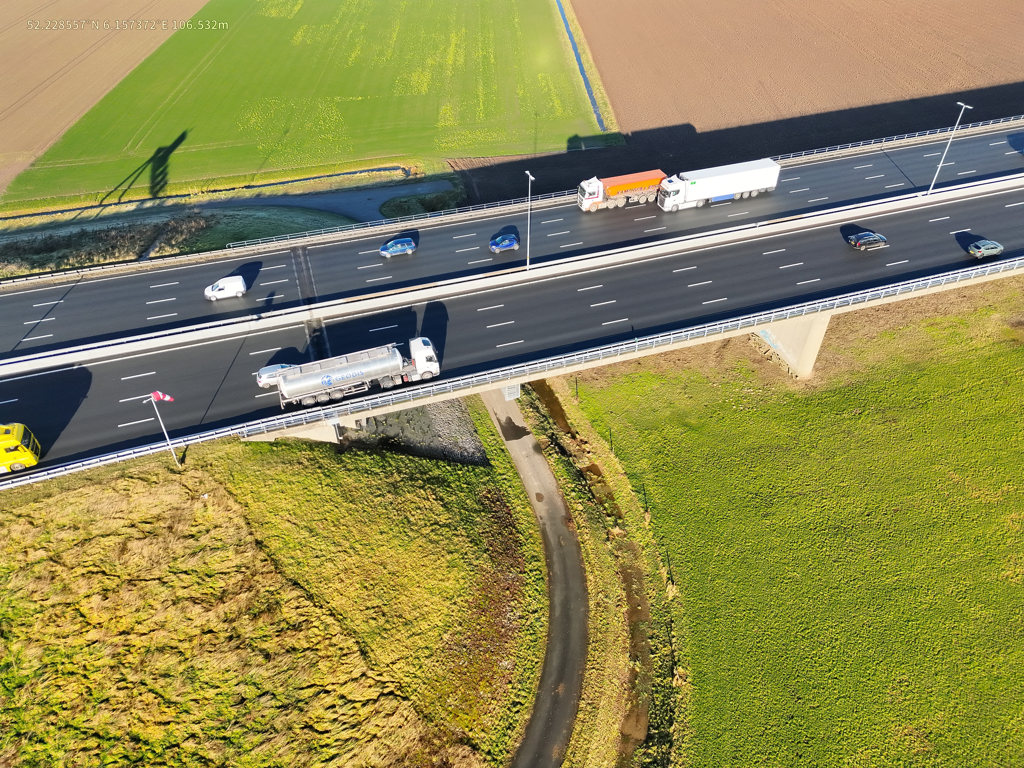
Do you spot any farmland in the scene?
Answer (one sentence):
Yes, the picture does contain farmland.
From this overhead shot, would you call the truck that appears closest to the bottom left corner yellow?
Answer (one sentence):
Yes, the truck that appears closest to the bottom left corner appears yellow.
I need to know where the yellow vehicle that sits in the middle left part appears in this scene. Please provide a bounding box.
[0,423,39,471]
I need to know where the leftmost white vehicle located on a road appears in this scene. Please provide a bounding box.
[203,276,243,301]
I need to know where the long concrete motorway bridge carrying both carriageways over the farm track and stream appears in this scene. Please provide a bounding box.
[0,124,1024,445]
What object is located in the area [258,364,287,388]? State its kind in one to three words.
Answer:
car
